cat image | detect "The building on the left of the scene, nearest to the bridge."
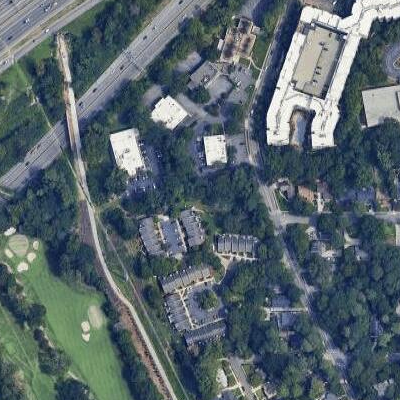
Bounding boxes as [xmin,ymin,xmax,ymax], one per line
[110,128,144,176]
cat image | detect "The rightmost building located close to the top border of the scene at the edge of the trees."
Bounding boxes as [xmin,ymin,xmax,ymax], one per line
[265,0,400,147]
